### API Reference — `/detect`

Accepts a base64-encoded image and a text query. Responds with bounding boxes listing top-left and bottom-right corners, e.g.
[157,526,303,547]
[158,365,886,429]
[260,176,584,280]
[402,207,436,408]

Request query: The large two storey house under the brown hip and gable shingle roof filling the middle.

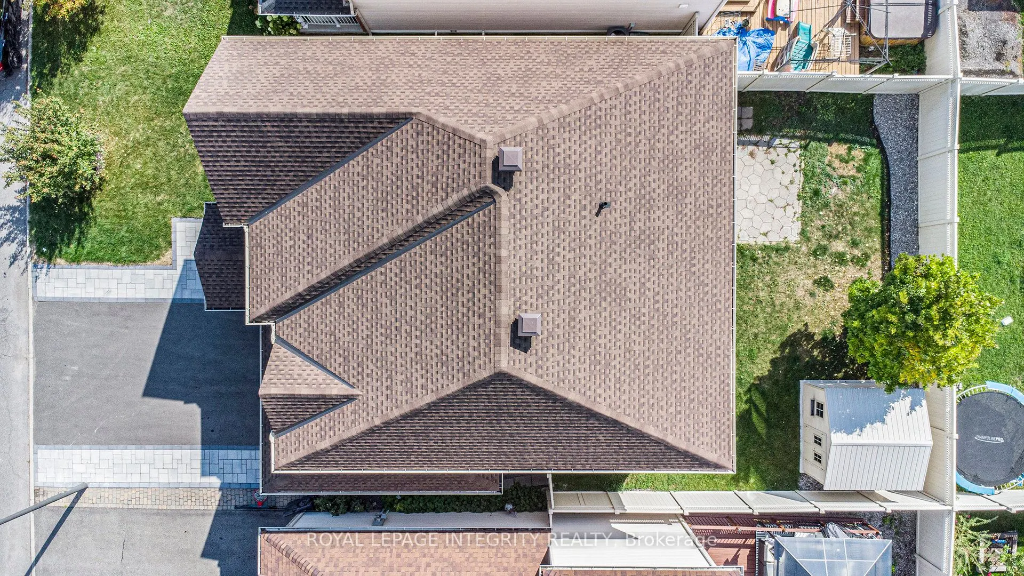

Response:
[182,34,736,494]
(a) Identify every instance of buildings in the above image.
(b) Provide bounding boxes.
[800,379,936,490]
[259,512,745,576]
[259,0,724,35]
[182,34,736,494]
